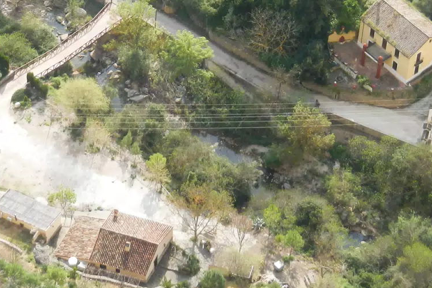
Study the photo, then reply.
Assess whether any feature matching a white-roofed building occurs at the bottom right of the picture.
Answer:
No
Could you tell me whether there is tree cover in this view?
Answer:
Yes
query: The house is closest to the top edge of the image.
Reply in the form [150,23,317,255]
[349,0,432,83]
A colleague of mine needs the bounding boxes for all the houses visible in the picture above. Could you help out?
[0,185,64,254]
[349,0,432,83]
[54,208,172,288]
